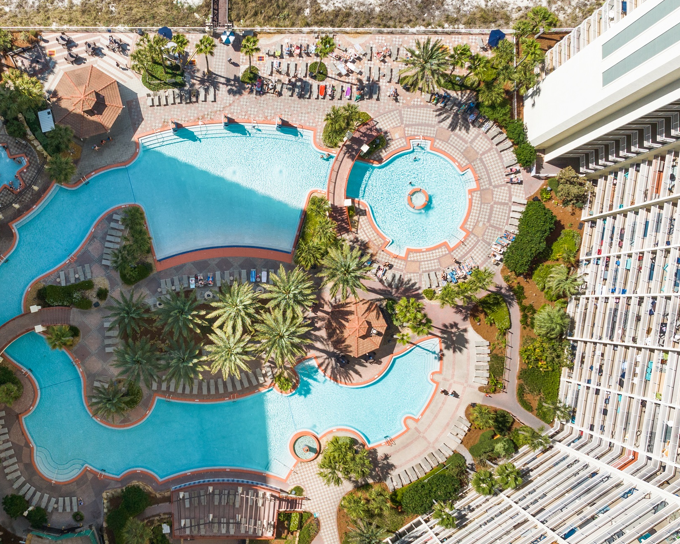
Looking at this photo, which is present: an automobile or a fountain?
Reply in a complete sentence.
The one in the frame is a fountain.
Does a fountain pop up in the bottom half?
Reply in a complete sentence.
Yes, in the bottom half there is a fountain.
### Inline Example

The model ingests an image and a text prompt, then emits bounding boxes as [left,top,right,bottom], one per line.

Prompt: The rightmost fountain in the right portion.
[407,187,430,209]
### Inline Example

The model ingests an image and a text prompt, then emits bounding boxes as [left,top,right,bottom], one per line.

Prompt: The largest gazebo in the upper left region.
[48,63,124,139]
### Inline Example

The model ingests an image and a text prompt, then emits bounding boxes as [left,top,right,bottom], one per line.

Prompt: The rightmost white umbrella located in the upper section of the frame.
[221,31,235,46]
